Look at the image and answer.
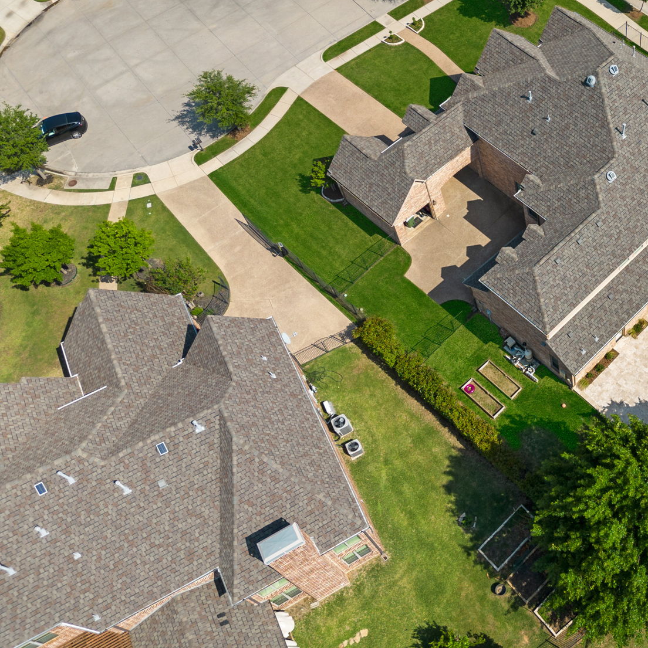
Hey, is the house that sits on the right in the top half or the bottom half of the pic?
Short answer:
top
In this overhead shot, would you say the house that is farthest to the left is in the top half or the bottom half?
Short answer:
bottom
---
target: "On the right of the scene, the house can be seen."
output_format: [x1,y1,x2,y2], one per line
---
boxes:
[326,6,648,387]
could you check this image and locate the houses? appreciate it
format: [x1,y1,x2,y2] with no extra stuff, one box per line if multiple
[0,288,386,648]
[326,6,648,387]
